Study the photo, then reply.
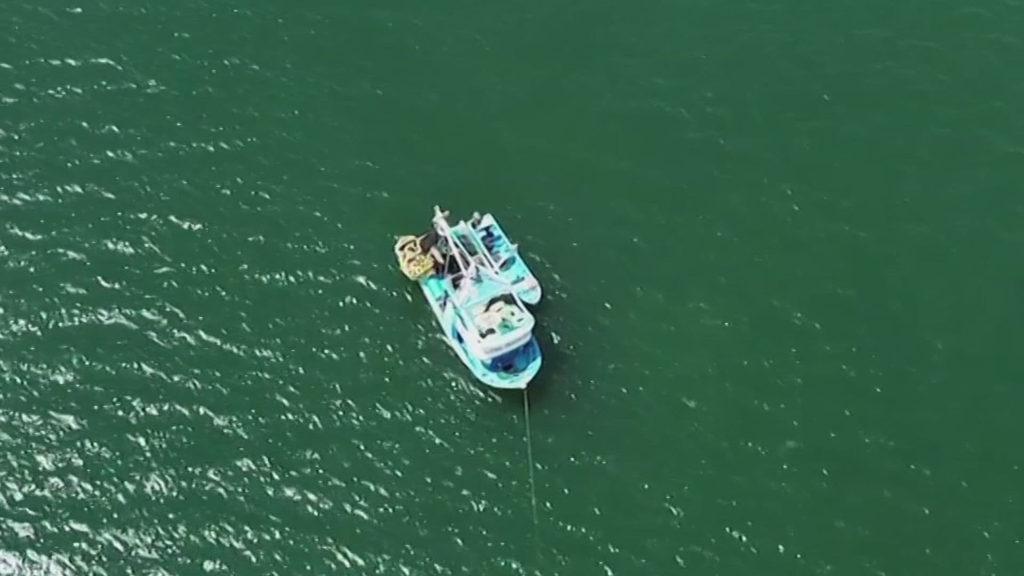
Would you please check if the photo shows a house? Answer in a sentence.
No, there's no house here.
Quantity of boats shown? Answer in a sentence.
Looking from above, you can make out 2 boats.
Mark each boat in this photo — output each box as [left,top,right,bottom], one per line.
[467,207,537,301]
[401,201,542,389]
